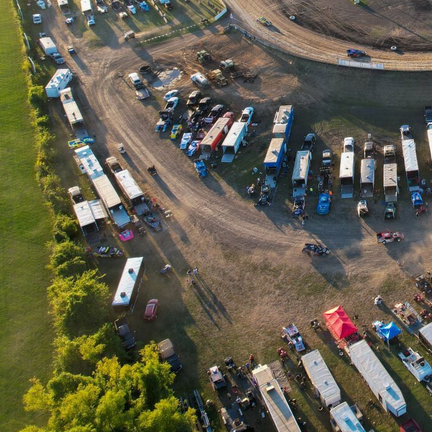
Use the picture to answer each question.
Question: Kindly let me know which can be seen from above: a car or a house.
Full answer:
The one in the frame is a car.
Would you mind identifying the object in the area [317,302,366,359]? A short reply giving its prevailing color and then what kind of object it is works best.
red tent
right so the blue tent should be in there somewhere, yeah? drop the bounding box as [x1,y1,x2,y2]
[377,322,406,354]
